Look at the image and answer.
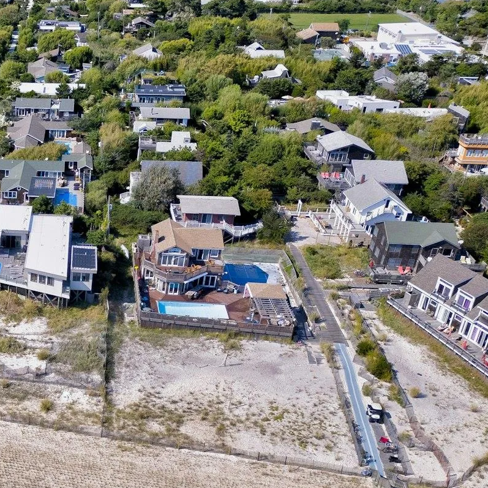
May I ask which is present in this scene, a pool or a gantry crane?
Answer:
pool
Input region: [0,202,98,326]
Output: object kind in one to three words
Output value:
house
